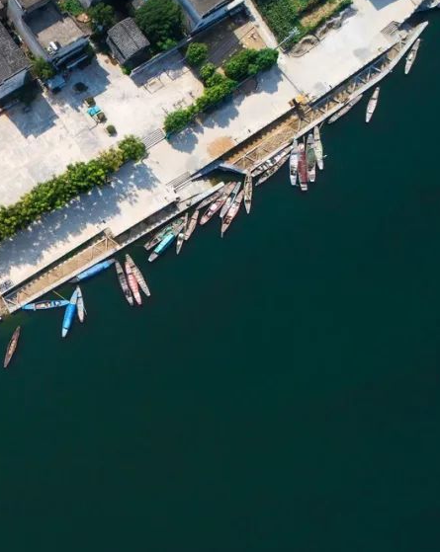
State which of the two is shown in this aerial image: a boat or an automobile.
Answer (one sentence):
I can see a boat in this picture.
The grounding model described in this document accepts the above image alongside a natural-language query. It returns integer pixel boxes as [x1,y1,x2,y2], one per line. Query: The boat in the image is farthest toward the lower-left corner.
[4,328,20,367]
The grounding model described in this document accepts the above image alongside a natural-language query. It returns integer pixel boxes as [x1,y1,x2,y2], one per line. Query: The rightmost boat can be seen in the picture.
[405,39,420,73]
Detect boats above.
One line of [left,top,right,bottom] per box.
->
[405,39,420,73]
[127,255,150,295]
[252,144,294,174]
[116,263,132,305]
[69,259,116,282]
[146,216,187,248]
[201,183,233,224]
[221,192,243,233]
[255,153,291,185]
[176,234,185,254]
[291,139,298,185]
[307,133,315,182]
[245,172,251,212]
[78,286,83,322]
[4,328,20,367]
[63,288,78,337]
[366,87,380,121]
[298,142,307,189]
[149,222,186,261]
[197,189,224,209]
[186,211,198,239]
[315,125,323,168]
[220,183,241,217]
[125,260,142,304]
[22,303,69,310]
[328,94,363,122]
